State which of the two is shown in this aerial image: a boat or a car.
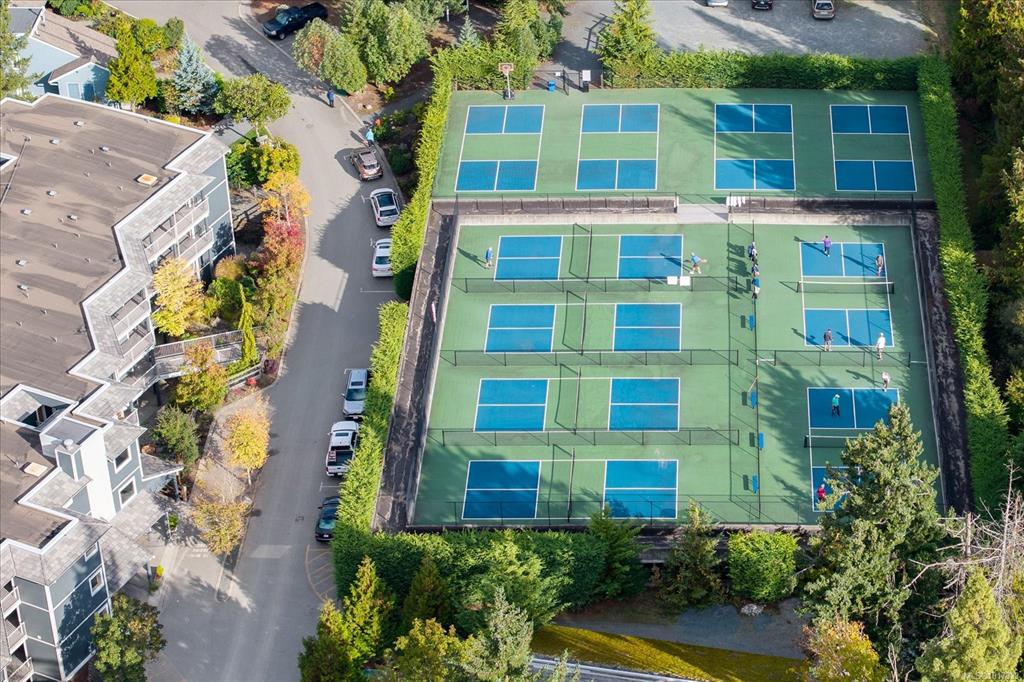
car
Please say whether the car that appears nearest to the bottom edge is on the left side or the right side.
left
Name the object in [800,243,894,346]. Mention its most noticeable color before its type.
blue sports court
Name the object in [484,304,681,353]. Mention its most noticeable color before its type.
blue sports court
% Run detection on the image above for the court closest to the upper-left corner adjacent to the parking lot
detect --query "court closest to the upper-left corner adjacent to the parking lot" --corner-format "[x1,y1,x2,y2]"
[454,105,546,191]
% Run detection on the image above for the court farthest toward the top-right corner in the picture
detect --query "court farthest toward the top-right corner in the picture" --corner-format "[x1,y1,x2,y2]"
[828,104,919,190]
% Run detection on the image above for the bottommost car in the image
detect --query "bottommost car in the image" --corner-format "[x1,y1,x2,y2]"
[304,489,343,542]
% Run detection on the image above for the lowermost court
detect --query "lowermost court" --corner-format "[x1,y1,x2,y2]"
[462,459,678,520]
